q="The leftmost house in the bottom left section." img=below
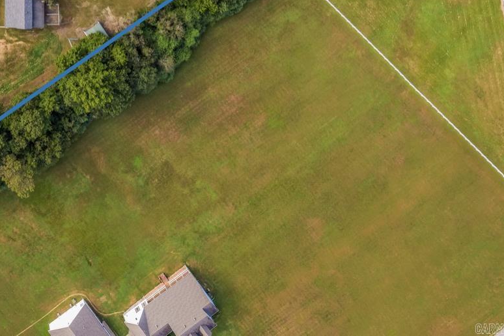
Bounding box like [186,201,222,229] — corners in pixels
[47,301,113,336]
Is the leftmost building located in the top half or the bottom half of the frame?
top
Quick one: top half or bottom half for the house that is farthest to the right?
bottom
